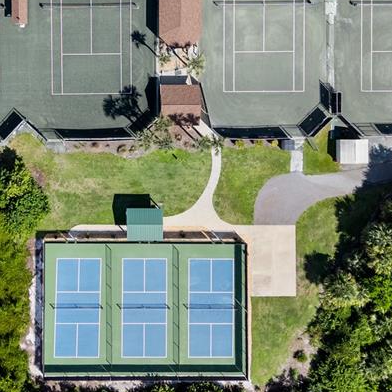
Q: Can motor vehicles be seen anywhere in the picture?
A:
No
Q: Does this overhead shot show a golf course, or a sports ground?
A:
sports ground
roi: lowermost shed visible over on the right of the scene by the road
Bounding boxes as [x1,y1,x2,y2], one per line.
[334,140,368,164]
